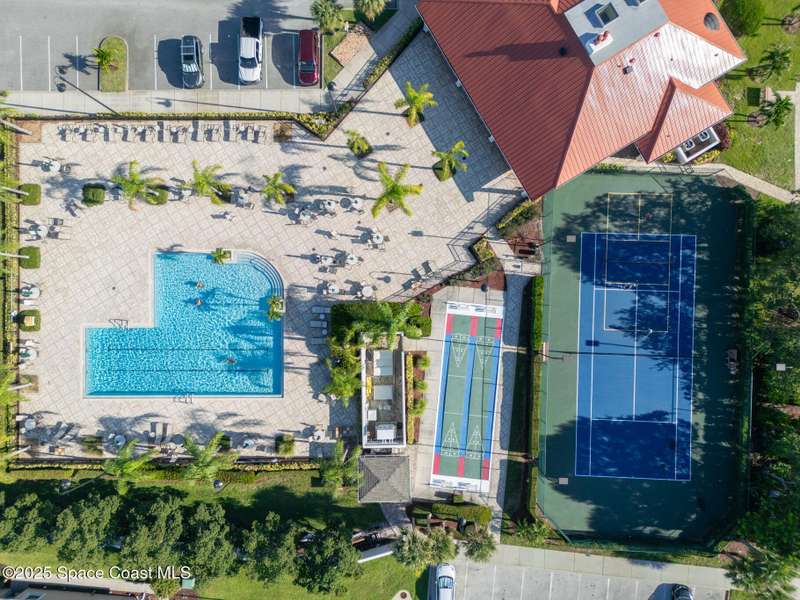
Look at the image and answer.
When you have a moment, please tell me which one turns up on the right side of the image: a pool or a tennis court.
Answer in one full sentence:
It is a tennis court that can be seen on the right side of the image.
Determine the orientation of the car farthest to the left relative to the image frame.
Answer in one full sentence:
From this overhead view, the car farthest to the left appears to run vertically.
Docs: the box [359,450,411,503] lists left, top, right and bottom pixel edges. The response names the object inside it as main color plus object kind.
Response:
gray gazebo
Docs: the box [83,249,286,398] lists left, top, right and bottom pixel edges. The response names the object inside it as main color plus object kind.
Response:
blue swimming pool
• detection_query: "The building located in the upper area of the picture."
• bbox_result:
[416,0,748,199]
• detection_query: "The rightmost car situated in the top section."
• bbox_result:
[295,29,321,88]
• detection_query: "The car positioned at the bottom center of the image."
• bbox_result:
[434,561,458,600]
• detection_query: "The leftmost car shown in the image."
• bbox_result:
[177,34,204,90]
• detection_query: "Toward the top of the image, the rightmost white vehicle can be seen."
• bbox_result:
[237,16,263,84]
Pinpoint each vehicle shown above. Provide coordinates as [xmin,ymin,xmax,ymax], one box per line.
[177,34,204,90]
[434,561,458,600]
[295,29,321,88]
[237,16,263,84]
[672,583,696,600]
